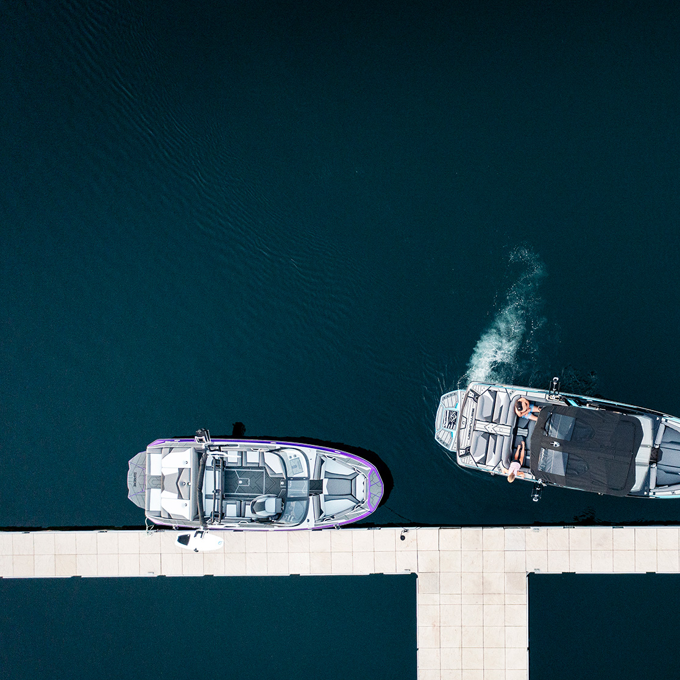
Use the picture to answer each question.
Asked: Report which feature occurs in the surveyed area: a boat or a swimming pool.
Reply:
boat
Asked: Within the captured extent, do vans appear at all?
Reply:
No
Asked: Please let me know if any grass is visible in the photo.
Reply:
No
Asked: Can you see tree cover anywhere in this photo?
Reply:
No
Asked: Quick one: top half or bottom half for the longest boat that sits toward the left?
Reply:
bottom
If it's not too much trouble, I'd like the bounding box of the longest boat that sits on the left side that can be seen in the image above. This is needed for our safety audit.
[127,429,385,537]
